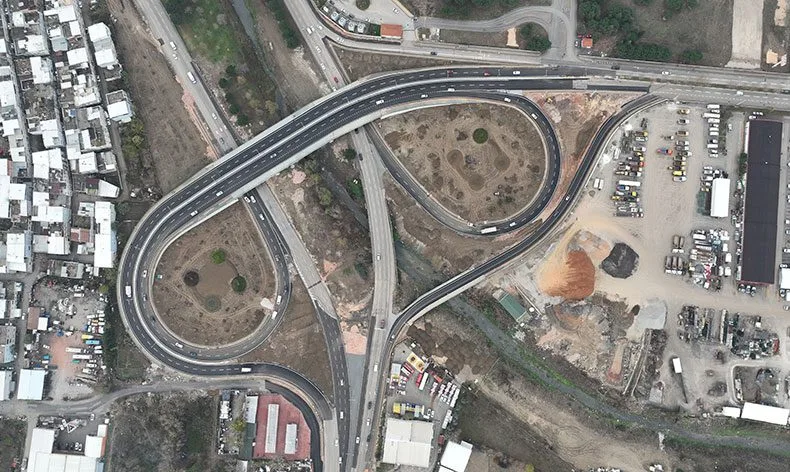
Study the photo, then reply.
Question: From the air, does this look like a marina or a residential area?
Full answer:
The picture captures a residential area.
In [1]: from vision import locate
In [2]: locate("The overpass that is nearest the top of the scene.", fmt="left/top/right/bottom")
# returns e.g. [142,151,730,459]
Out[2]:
[198,69,436,212]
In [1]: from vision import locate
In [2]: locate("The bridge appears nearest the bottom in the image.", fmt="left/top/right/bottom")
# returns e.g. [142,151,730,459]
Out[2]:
[403,252,507,319]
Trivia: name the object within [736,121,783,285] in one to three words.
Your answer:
building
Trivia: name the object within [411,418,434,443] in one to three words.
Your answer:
building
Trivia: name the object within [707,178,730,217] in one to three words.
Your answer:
shed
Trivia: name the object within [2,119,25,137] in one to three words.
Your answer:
house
